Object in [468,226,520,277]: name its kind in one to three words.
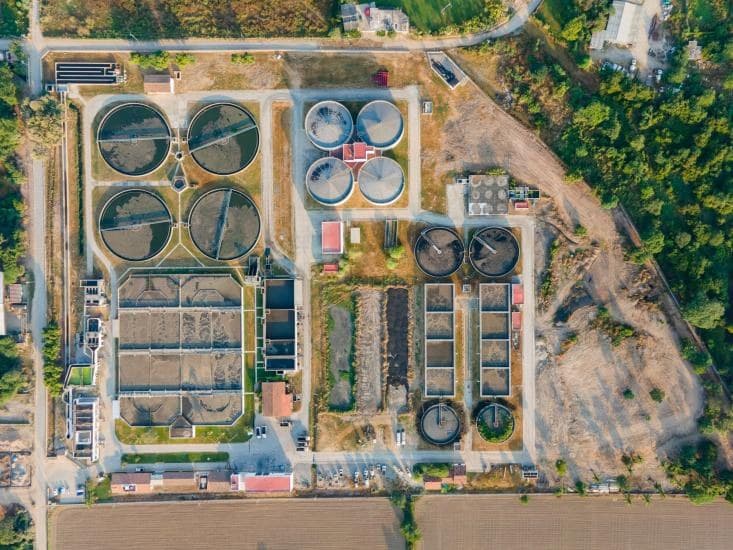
storage tank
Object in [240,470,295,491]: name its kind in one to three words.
building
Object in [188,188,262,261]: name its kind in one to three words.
storage tank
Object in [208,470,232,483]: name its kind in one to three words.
house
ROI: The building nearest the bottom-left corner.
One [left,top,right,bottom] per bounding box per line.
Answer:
[0,450,34,487]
